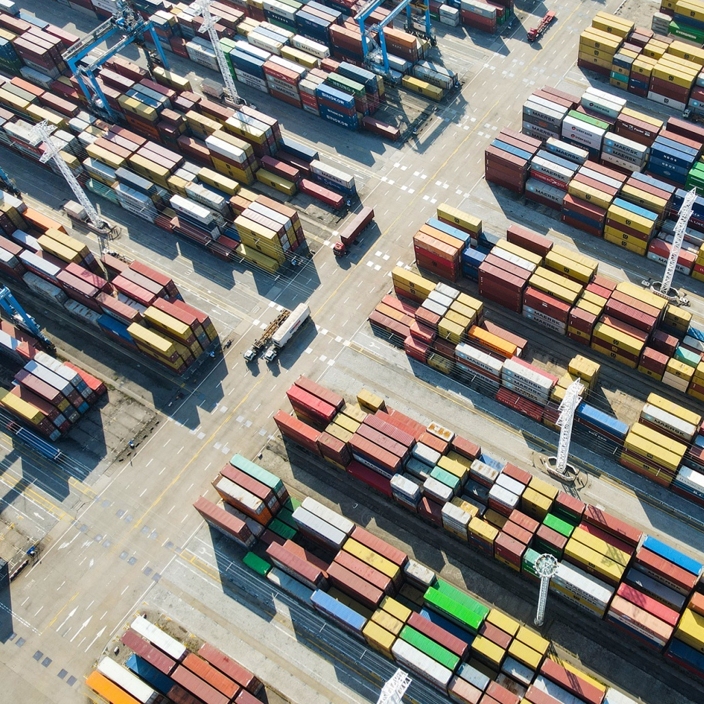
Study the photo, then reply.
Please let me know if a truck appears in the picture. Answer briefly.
Yes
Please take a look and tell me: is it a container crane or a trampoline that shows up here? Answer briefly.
container crane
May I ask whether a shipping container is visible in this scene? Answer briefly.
Yes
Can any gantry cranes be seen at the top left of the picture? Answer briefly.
Yes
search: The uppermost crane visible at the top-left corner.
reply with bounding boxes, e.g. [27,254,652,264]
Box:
[49,4,170,122]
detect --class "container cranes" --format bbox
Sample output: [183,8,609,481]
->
[49,4,170,122]
[0,161,21,187]
[0,282,56,341]
[336,0,433,83]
